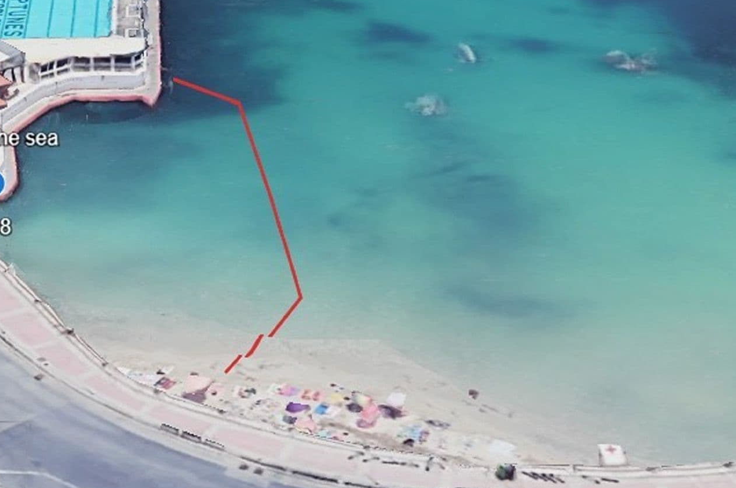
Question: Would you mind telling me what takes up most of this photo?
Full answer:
The largest share of the image is taken up by water.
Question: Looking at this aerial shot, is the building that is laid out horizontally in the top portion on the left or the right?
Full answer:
The building that is laid out horizontally in the top portion sits on the left side.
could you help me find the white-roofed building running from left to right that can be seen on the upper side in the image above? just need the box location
[0,36,148,86]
